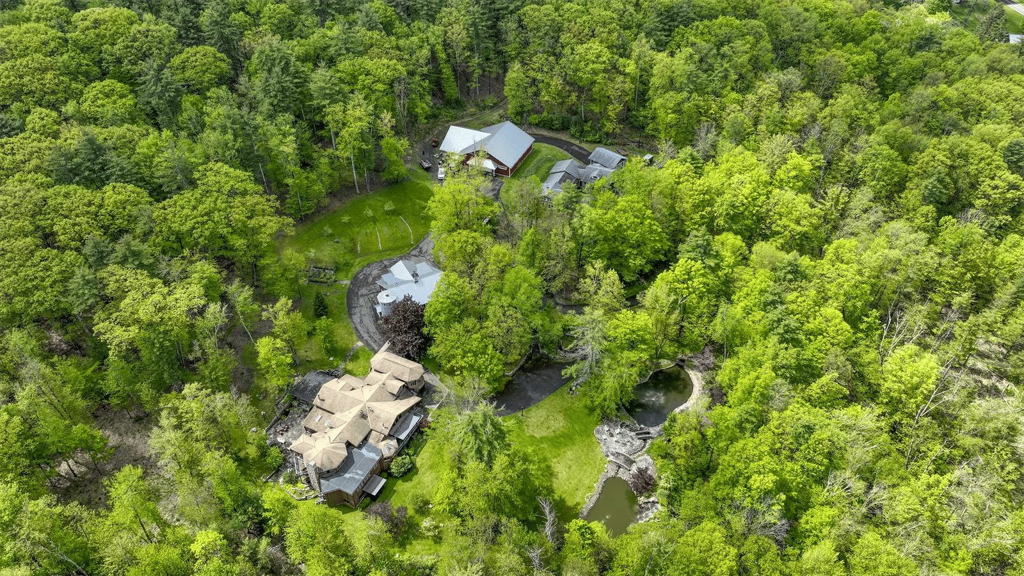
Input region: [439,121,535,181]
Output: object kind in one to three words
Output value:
barn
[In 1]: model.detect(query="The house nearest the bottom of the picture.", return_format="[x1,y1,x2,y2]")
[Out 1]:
[289,341,424,507]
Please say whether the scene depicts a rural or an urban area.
rural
